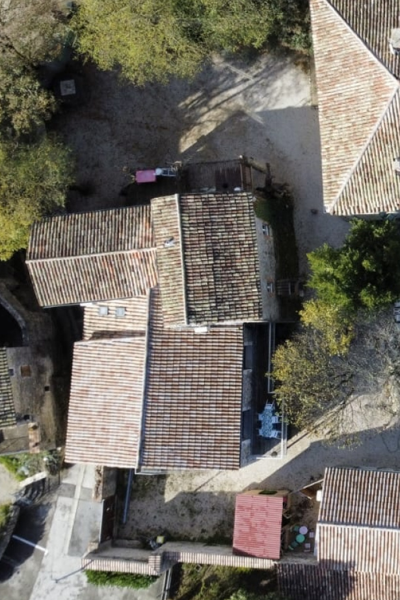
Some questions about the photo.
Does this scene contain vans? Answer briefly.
No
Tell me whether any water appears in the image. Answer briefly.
No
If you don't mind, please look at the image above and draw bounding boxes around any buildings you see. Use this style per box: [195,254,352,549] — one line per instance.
[25,191,287,474]
[0,346,53,431]
[277,461,400,600]
[233,487,292,559]
[309,0,400,226]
